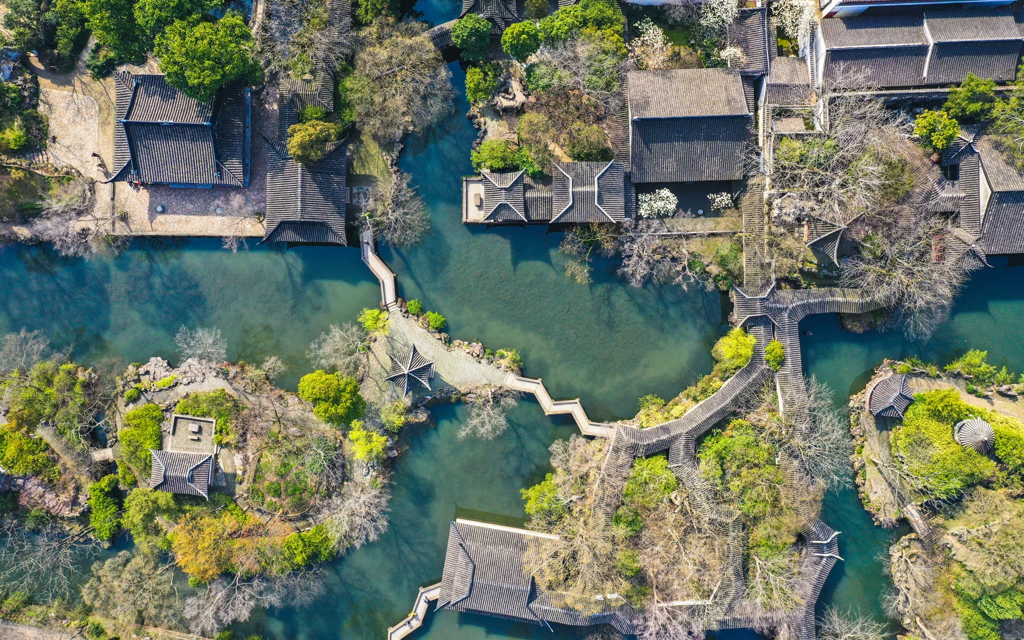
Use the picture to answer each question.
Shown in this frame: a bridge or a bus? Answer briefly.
bridge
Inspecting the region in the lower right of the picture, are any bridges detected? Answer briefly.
Yes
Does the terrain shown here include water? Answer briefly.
Yes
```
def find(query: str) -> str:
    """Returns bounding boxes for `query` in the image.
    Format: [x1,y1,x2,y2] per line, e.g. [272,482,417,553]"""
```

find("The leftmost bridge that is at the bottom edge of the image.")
[385,582,439,640]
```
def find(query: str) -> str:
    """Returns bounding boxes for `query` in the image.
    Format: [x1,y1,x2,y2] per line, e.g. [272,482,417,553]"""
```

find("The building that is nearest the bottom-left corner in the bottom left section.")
[141,446,223,501]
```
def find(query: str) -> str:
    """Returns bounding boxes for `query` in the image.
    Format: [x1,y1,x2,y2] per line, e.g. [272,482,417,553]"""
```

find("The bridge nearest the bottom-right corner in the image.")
[896,501,945,541]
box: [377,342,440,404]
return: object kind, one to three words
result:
building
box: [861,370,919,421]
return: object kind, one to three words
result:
building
